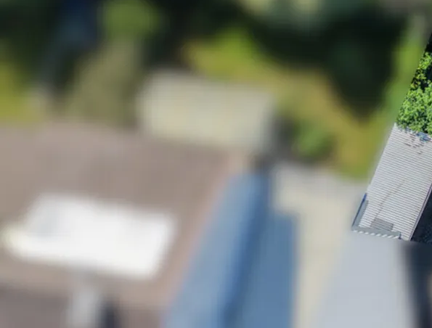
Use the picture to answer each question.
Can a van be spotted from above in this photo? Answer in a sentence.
No, the frame has no van in it.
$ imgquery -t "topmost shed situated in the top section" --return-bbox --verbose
[135,72,293,142]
